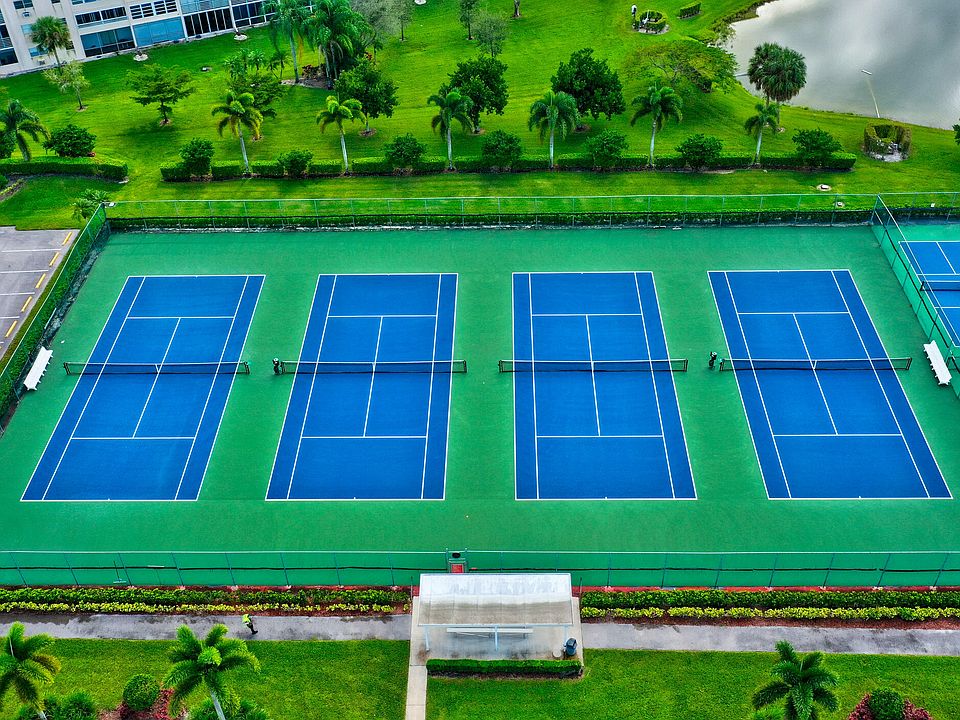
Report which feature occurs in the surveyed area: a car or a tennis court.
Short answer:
tennis court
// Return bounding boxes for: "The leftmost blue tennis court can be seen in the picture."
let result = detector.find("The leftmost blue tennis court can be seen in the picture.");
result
[21,275,265,501]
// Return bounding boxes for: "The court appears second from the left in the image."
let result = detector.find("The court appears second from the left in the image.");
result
[266,274,458,500]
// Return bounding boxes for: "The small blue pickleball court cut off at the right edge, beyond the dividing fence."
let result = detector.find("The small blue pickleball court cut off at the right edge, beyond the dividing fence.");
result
[899,241,960,346]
